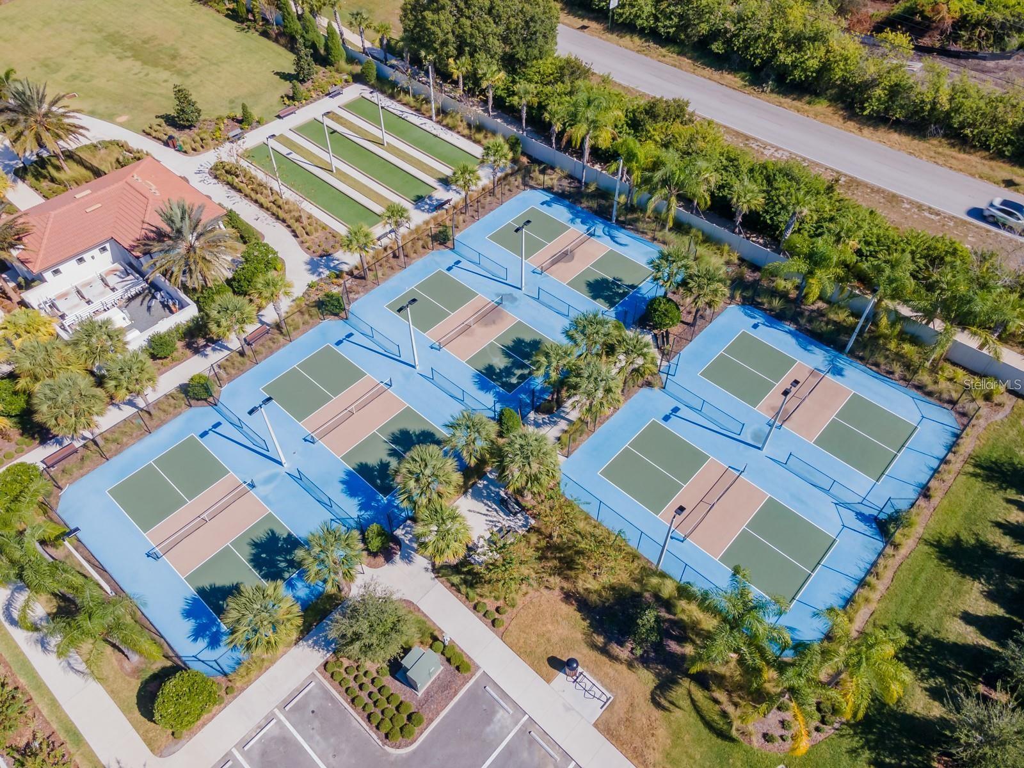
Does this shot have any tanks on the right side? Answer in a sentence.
No, on the right side there is no tank.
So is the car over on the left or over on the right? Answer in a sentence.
The car sits on the right side.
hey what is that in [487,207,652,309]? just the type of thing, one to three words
sports court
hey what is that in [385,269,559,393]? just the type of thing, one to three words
sports court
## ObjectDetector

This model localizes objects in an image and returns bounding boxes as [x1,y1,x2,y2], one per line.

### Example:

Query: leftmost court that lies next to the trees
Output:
[108,434,305,629]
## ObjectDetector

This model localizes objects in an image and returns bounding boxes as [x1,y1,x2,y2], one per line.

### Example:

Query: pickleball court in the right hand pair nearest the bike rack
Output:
[600,420,838,610]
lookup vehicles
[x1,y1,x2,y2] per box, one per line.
[982,201,1024,239]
